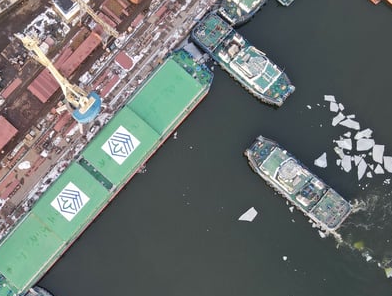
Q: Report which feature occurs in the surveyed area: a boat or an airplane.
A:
boat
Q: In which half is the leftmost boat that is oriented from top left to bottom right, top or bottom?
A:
top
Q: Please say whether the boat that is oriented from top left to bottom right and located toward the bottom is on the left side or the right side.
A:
right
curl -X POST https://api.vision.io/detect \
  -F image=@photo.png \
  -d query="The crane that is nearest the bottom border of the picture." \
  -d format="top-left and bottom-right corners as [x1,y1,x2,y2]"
[16,37,109,134]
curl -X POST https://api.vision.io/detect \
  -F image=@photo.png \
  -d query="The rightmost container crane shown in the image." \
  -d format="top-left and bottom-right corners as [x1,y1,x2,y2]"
[74,0,128,62]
